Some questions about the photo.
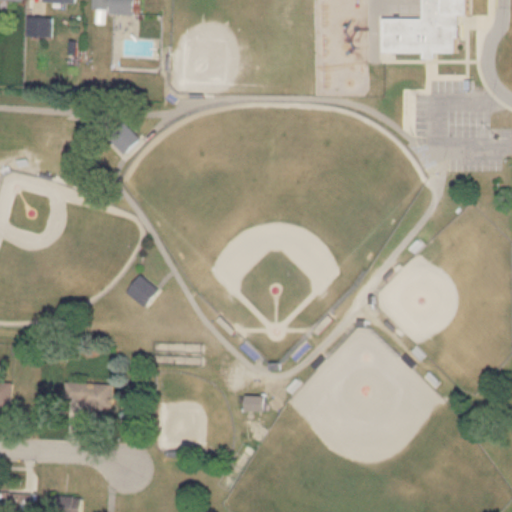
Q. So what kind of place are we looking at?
sports ground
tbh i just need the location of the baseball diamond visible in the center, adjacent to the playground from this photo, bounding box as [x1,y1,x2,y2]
[123,102,426,360]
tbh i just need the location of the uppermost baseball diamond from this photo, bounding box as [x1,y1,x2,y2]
[170,0,316,95]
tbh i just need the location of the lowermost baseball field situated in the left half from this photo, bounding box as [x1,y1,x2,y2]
[158,400,208,451]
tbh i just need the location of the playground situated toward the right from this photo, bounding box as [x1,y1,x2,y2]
[316,0,370,96]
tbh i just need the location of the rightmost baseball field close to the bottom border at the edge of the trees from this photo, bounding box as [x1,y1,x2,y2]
[225,327,510,512]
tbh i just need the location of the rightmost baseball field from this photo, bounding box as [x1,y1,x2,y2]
[378,206,512,390]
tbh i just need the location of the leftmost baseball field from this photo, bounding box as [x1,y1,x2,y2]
[0,172,147,327]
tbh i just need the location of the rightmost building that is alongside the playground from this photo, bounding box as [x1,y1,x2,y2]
[380,0,466,60]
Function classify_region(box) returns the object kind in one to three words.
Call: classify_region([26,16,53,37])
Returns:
building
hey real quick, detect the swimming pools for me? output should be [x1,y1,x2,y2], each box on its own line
[122,39,154,58]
